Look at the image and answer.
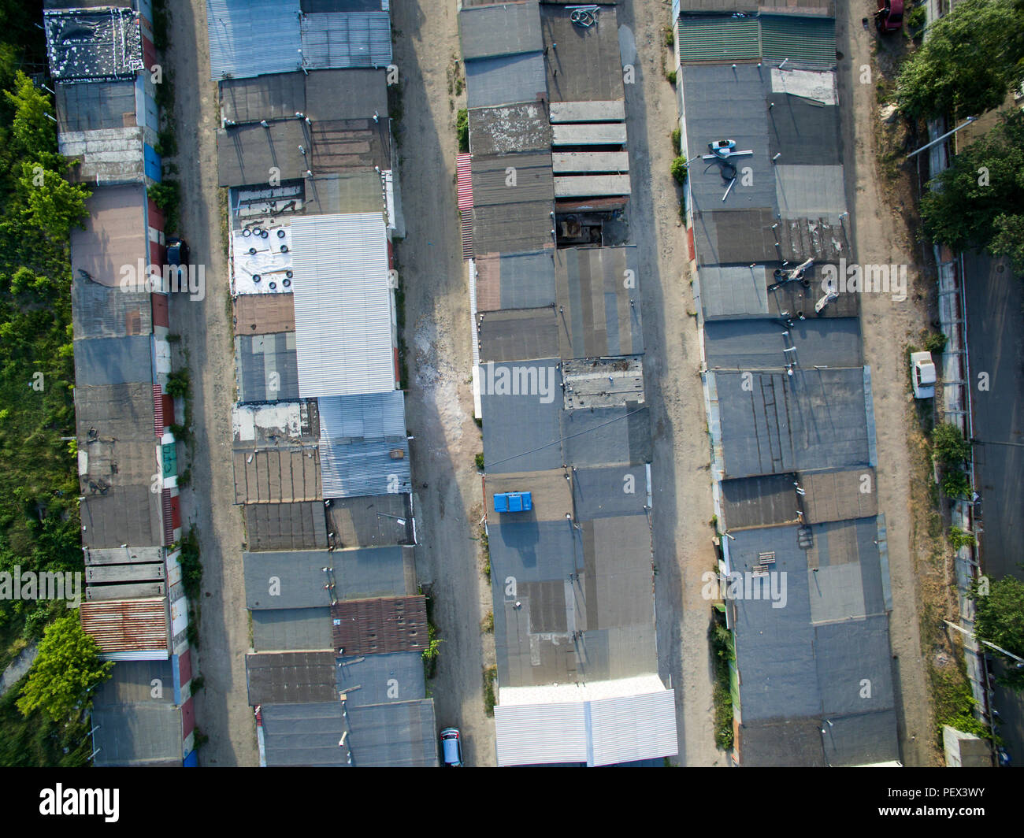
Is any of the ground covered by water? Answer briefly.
No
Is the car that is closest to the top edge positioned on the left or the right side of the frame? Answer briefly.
right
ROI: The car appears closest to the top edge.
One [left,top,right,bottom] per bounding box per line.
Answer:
[870,0,906,32]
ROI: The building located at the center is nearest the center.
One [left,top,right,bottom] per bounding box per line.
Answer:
[472,358,567,473]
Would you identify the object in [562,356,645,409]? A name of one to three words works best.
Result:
building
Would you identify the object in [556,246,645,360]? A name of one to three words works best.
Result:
building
